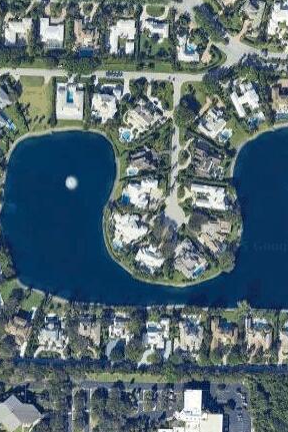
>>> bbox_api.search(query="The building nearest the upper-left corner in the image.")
[5,18,31,46]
